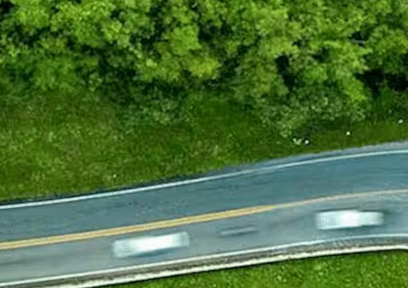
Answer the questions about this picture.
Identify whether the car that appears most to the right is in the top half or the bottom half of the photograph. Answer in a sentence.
The car that appears most to the right sits in the bottom half of the picture.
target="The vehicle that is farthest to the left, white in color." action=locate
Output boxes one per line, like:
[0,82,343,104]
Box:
[116,231,187,261]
